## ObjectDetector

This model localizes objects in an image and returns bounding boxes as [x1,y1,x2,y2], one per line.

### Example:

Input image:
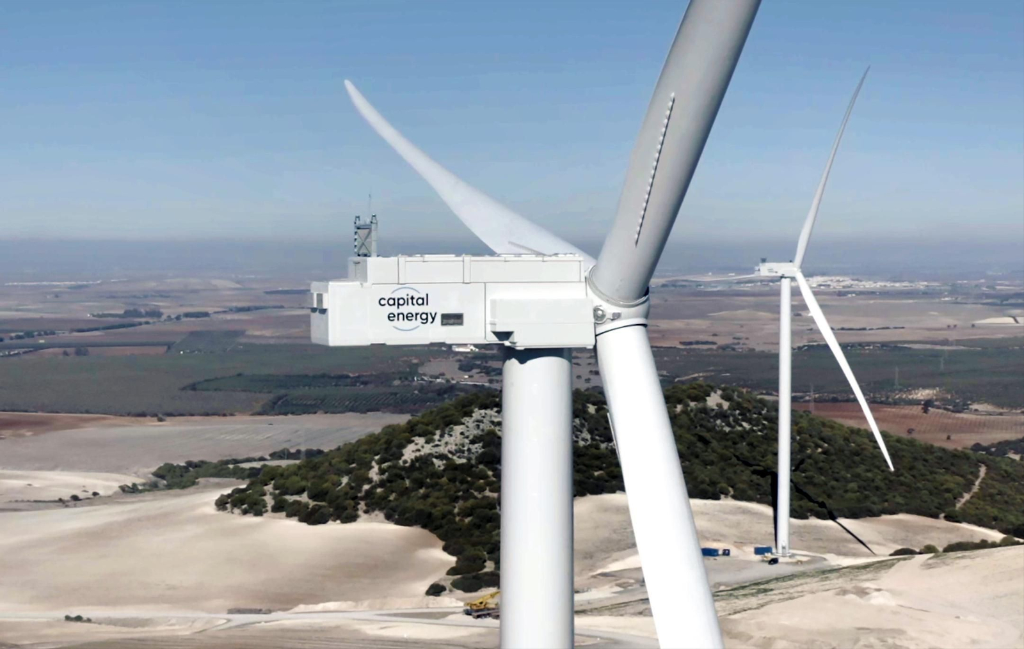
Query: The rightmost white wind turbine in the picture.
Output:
[684,64,893,556]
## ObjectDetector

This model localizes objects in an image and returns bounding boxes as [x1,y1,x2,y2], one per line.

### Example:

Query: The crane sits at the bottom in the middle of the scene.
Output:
[458,590,502,616]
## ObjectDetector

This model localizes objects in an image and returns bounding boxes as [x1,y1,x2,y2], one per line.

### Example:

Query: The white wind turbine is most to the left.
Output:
[304,0,760,649]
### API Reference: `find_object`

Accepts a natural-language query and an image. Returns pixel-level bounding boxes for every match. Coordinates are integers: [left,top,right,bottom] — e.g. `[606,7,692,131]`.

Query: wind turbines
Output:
[304,0,760,649]
[684,64,893,556]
